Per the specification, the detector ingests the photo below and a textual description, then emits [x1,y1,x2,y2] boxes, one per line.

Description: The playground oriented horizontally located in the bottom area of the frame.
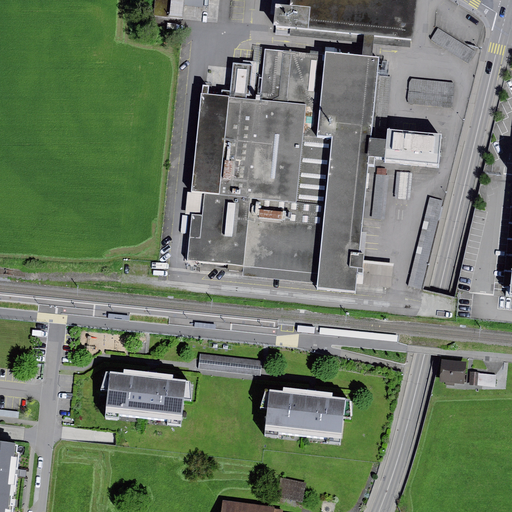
[79,330,144,354]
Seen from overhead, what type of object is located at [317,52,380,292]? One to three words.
building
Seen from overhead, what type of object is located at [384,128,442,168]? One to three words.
building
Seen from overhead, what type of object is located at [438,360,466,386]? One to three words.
house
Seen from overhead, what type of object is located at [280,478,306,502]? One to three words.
shed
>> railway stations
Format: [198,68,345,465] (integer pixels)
[0,294,398,342]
